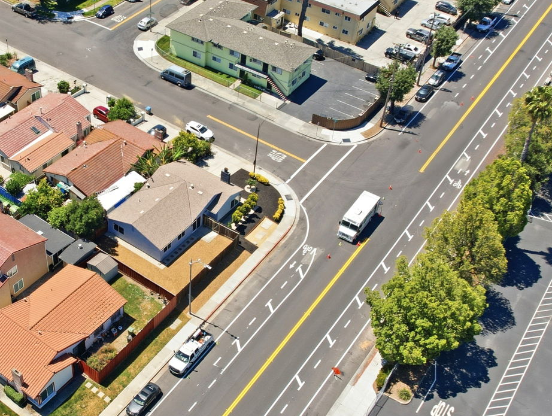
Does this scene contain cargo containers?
No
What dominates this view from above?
paved ground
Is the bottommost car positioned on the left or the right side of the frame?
left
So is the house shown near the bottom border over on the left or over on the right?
left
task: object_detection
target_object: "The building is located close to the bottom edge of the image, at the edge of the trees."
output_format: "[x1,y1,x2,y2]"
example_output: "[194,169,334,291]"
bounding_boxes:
[0,264,127,408]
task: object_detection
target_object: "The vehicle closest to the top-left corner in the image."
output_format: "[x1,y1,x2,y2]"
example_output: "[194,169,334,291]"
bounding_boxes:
[11,1,37,17]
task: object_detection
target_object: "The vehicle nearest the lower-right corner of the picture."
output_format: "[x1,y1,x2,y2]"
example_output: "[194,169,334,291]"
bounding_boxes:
[340,186,384,237]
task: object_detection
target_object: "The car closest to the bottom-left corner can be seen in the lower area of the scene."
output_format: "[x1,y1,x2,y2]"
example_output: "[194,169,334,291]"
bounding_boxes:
[123,379,164,416]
